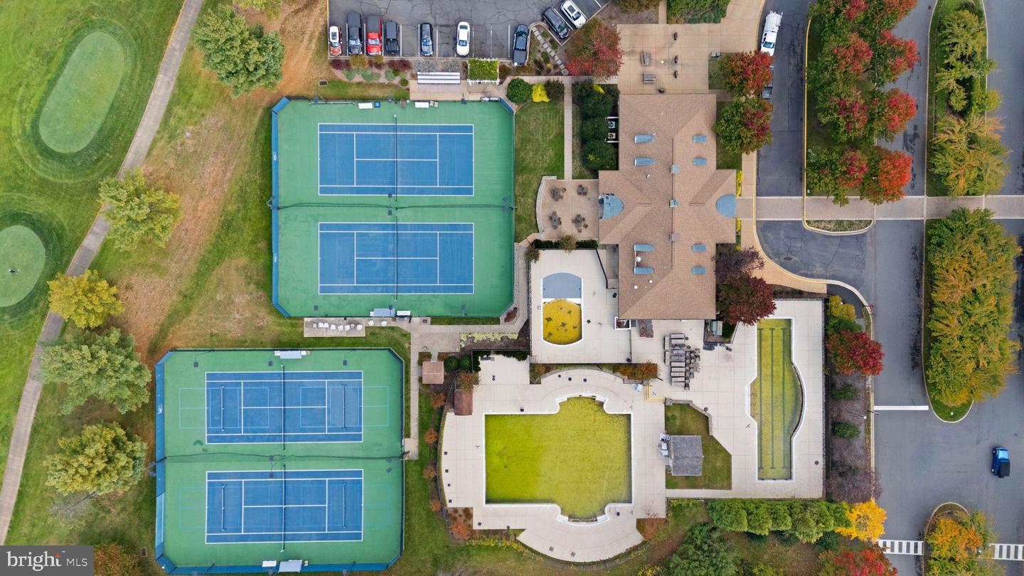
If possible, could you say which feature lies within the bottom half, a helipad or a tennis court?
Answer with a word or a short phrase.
tennis court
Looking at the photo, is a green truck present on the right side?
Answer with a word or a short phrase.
No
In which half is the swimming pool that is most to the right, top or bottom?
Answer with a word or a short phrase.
bottom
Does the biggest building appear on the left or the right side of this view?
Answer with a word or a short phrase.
right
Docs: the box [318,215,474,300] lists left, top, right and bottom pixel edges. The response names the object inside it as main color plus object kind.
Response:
blue tennis court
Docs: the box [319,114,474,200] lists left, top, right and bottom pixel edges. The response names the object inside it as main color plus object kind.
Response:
blue tennis court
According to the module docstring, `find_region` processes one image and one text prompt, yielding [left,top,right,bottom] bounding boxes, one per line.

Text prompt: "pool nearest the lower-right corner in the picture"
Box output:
[748,316,805,482]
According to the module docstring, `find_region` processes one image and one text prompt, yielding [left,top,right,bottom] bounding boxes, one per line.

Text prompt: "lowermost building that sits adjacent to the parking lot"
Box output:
[598,94,736,319]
